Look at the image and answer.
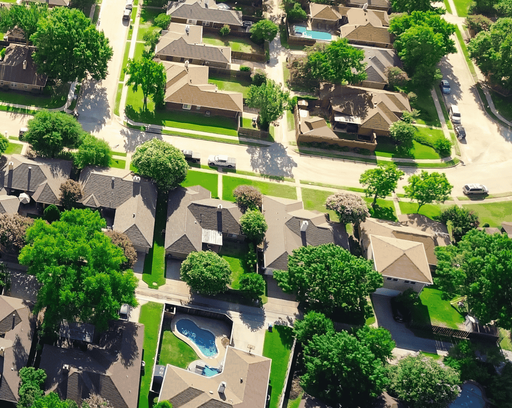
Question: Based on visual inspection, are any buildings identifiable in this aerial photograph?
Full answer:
Yes, there's a building down there.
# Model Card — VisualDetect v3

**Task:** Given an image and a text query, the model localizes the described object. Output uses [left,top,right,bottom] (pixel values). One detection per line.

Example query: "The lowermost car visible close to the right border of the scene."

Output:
[464,184,492,197]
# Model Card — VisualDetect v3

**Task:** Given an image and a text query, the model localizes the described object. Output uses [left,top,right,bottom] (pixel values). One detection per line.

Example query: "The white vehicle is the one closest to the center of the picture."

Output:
[208,156,238,170]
